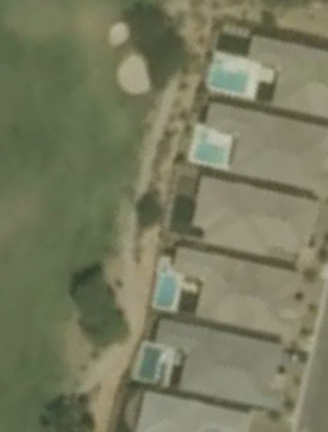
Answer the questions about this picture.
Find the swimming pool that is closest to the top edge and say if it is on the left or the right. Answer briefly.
right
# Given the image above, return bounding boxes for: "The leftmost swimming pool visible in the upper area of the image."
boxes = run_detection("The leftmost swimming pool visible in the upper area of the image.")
[189,124,232,169]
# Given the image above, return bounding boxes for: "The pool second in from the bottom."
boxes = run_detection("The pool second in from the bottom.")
[153,257,198,314]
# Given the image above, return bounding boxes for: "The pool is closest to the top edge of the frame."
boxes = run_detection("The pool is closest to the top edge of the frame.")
[206,50,275,102]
